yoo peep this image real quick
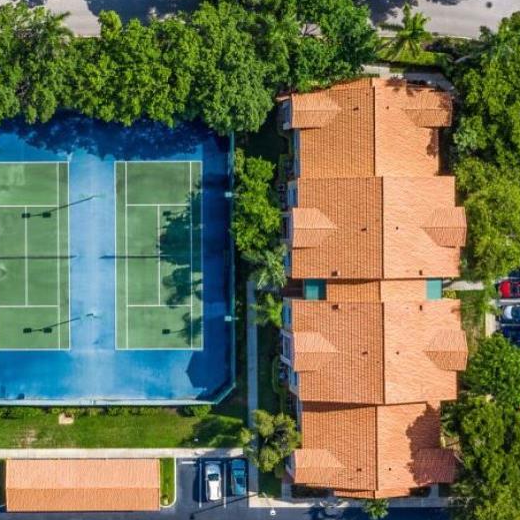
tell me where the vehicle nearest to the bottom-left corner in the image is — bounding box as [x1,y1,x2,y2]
[205,461,223,500]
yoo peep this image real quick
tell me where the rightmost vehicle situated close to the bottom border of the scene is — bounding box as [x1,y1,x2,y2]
[230,458,248,496]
